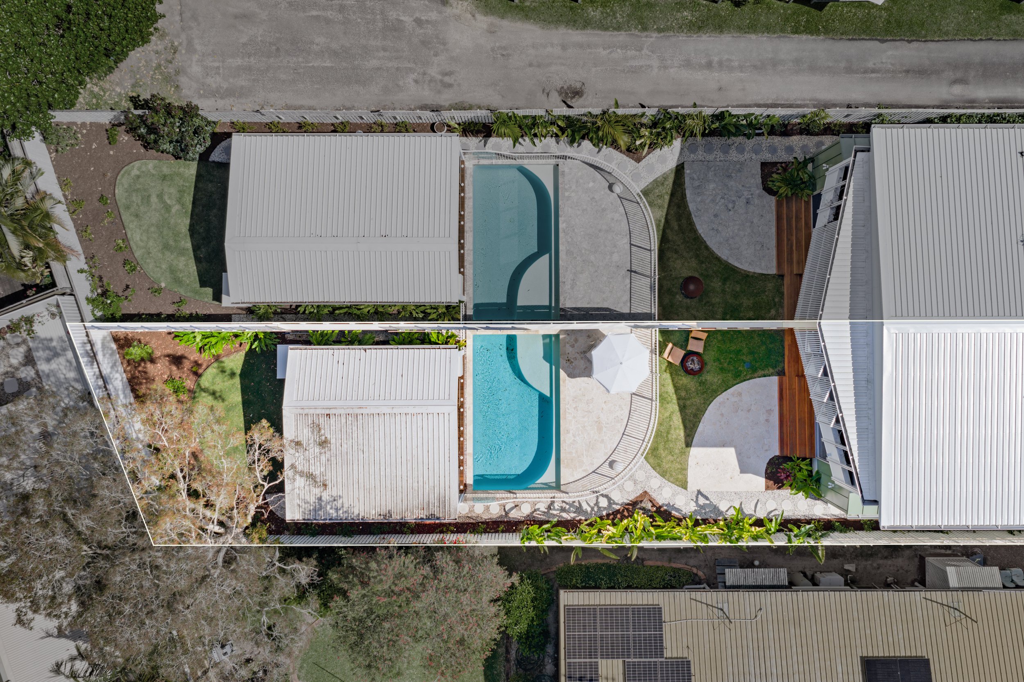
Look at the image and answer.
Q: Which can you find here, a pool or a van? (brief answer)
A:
pool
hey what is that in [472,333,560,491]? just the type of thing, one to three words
swimming pool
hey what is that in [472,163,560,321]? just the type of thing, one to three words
swimming pool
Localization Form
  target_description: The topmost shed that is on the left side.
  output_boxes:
[221,129,465,309]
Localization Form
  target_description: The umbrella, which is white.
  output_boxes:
[589,332,650,393]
